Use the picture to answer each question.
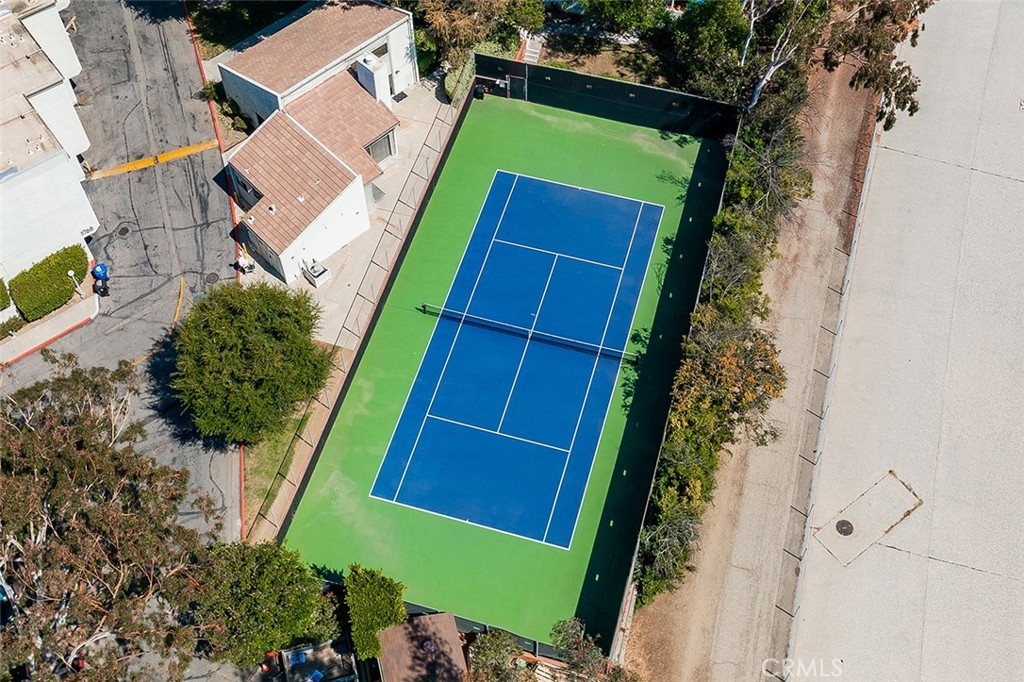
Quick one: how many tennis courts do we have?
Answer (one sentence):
Only 1 tennis court is visible.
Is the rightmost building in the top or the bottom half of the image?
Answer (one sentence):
The rightmost building sits in the top half of the picture.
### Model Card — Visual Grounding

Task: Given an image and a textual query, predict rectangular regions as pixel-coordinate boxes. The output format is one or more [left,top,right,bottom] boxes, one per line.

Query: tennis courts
[275,94,735,659]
